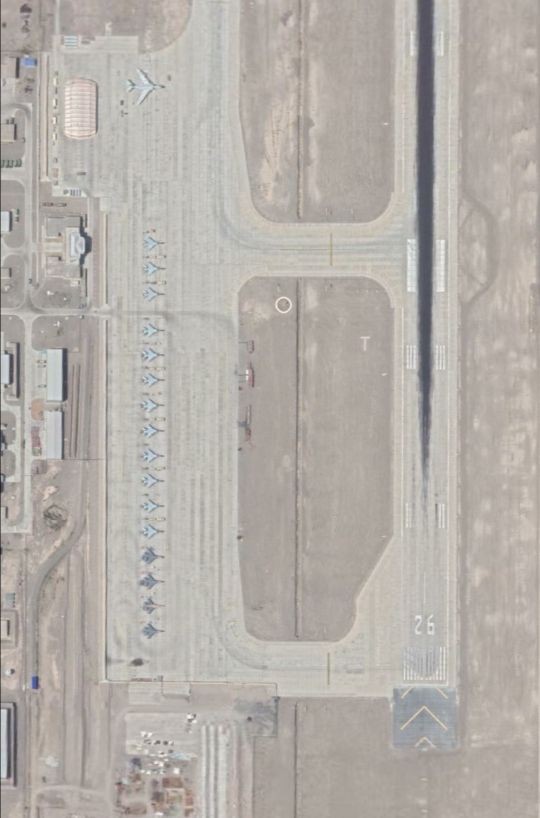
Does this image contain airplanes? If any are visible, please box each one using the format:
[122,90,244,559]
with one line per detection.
[143,550,164,564]
[143,347,165,362]
[143,287,164,301]
[143,598,165,613]
[143,524,165,538]
[144,474,164,488]
[143,499,165,513]
[143,449,165,463]
[143,624,165,638]
[143,424,166,439]
[143,574,166,589]
[143,398,165,412]
[143,236,165,250]
[143,324,166,338]
[143,261,164,276]
[127,68,165,104]
[144,373,165,387]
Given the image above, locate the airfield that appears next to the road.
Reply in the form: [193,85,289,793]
[52,0,457,748]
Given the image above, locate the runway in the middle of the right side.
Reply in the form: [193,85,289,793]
[394,0,457,686]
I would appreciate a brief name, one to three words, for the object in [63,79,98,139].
hangar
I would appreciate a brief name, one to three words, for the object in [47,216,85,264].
building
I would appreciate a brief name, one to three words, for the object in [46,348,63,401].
building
